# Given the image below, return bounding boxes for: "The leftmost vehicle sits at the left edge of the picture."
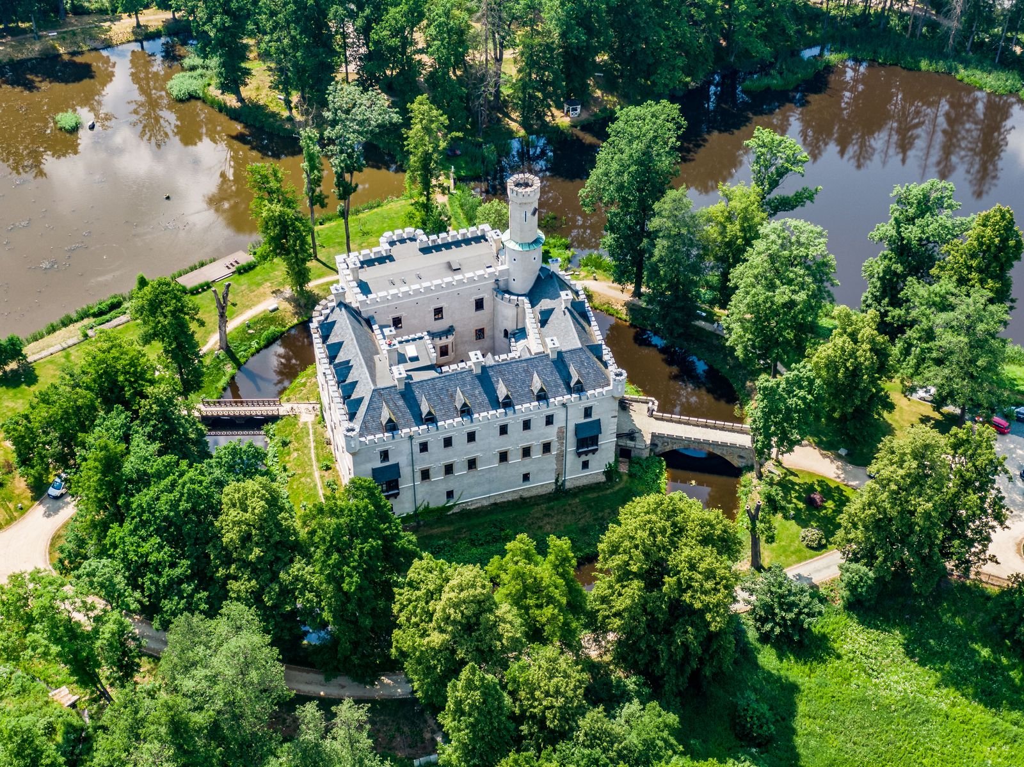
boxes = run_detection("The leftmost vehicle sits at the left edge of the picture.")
[46,473,68,498]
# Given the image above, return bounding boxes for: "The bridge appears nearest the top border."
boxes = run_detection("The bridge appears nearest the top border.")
[187,395,285,424]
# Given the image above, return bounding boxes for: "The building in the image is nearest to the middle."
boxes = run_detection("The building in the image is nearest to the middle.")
[310,175,628,535]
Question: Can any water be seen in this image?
Yes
